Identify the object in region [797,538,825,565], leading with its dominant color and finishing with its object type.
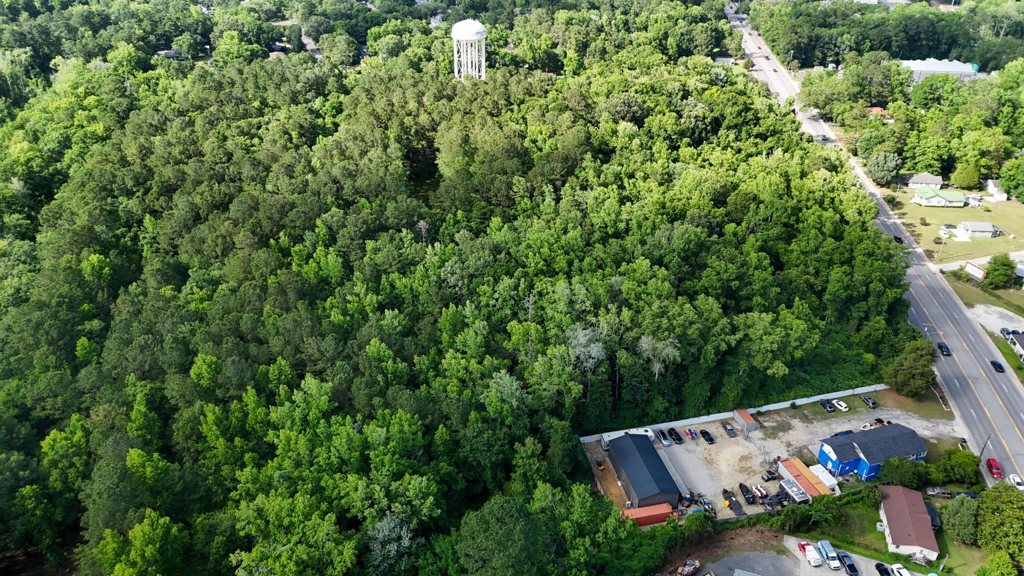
white truck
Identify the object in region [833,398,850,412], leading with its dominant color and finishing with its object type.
white car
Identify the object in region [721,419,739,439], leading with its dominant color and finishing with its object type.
gray vehicle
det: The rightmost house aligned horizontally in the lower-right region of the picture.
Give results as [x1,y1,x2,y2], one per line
[815,425,932,481]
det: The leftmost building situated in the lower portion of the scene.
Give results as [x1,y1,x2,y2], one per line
[608,434,681,508]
